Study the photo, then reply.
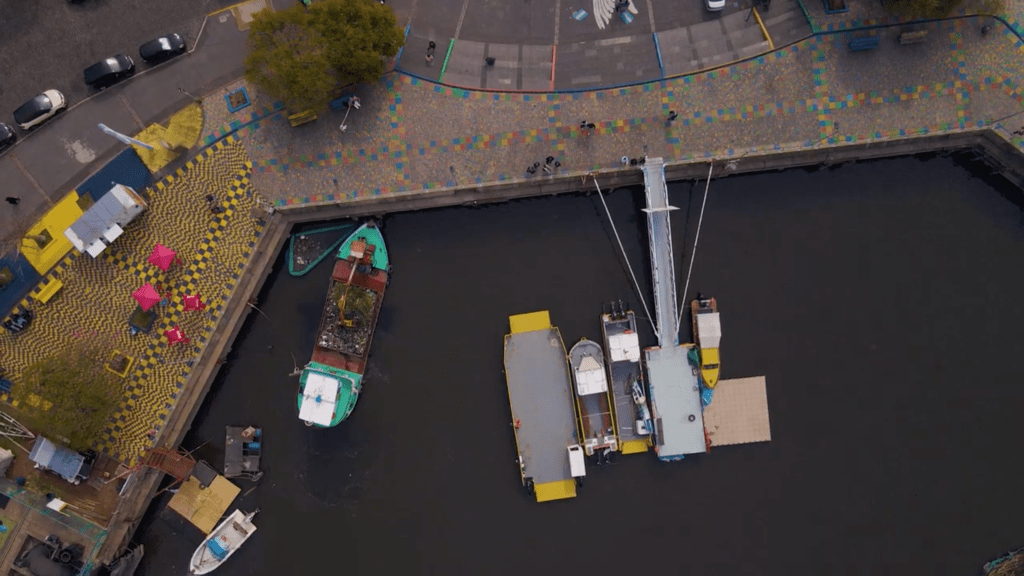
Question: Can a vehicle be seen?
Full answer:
Yes, the image includes a vehicle.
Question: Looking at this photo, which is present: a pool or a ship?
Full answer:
Looking from above, you can make out a ship.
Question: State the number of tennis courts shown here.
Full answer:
The photo contains no tennis courts.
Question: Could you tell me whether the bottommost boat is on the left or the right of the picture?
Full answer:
It is on the left.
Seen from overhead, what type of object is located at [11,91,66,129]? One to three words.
car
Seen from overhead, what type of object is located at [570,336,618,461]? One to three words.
boat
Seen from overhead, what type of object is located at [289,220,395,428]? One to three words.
boat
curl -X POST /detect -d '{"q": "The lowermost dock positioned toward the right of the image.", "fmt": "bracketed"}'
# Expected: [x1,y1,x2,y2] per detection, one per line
[644,343,712,461]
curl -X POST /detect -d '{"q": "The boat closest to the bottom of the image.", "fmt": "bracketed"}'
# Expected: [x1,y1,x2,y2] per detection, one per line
[190,511,257,576]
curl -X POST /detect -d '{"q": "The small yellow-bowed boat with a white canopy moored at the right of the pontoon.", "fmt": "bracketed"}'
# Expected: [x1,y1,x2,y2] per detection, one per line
[692,292,722,389]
